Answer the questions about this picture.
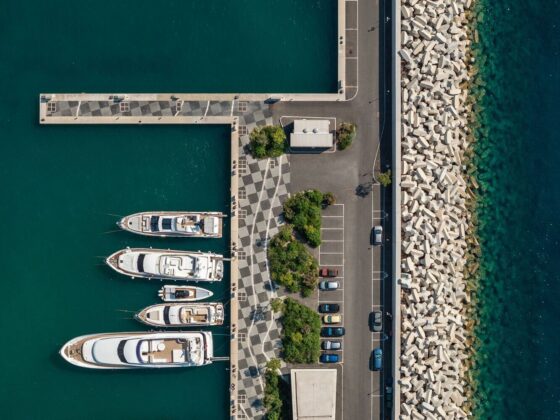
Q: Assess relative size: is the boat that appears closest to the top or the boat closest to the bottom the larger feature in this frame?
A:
the boat closest to the bottom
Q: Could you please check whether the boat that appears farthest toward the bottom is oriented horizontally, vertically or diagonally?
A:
horizontally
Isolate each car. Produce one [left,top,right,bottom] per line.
[374,311,383,331]
[320,281,341,290]
[320,268,339,277]
[374,348,383,370]
[374,225,383,244]
[320,326,345,337]
[323,316,341,325]
[321,341,341,351]
[318,304,340,314]
[319,353,340,363]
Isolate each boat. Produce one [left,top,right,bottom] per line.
[216,305,223,319]
[118,296,233,328]
[98,247,232,282]
[215,260,223,278]
[159,285,231,301]
[106,211,229,240]
[60,327,232,370]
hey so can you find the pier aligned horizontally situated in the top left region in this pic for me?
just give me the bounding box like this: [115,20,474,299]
[40,94,231,124]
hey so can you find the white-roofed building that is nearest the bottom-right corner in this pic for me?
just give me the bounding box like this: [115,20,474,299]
[291,369,337,420]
